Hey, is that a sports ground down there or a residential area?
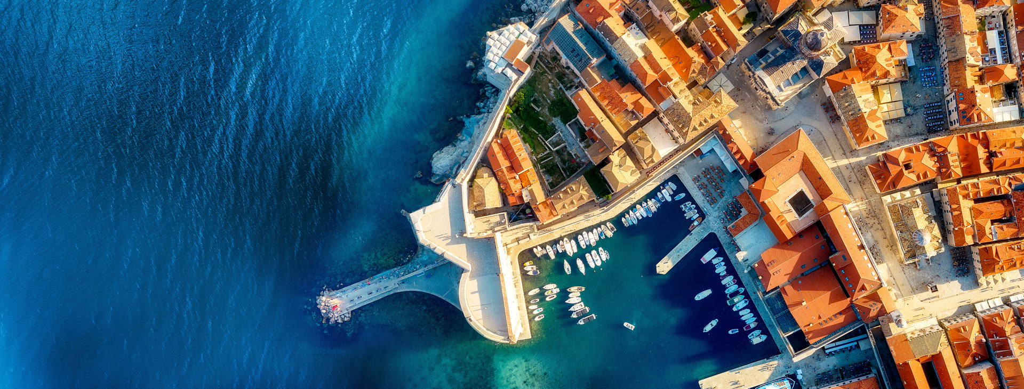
residential area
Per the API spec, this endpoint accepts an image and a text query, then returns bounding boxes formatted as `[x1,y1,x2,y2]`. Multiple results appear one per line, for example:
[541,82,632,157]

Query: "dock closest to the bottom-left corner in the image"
[330,250,463,315]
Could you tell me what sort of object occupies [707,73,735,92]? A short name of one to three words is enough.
umbrella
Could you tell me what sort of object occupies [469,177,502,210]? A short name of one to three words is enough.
building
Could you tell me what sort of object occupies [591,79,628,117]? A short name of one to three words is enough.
house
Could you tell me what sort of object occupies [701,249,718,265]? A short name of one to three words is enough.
boat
